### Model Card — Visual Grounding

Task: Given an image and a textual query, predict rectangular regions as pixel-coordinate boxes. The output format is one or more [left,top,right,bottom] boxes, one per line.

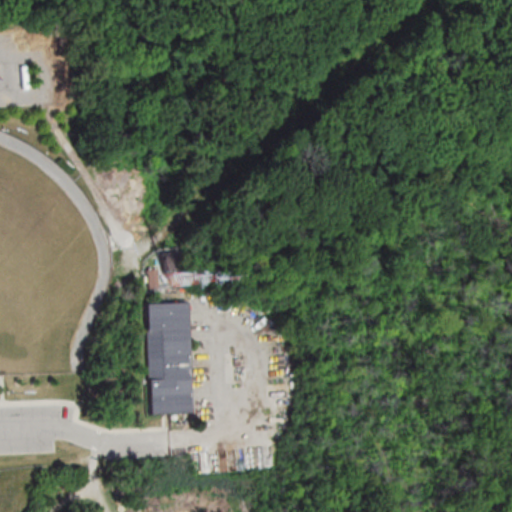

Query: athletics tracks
[0,132,108,372]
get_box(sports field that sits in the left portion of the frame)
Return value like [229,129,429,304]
[0,146,96,372]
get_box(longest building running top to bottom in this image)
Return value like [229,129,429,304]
[148,304,192,414]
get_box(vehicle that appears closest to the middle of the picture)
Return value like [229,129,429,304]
[250,316,270,334]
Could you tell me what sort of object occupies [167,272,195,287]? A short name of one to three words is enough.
shed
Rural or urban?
rural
